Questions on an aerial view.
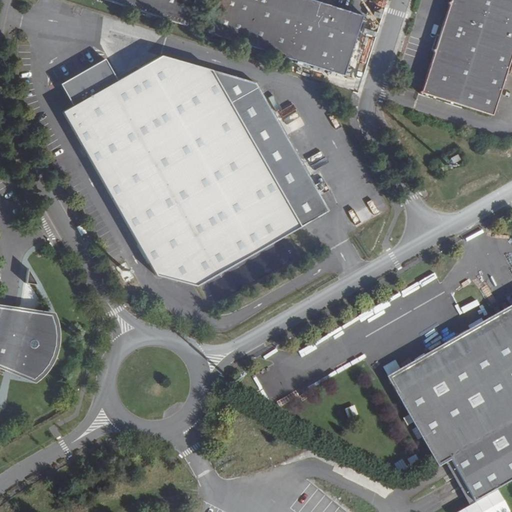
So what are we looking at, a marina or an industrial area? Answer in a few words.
industrial area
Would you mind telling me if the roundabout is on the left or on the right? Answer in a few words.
left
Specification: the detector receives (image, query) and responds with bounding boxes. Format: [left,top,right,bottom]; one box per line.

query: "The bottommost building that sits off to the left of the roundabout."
[0,306,62,383]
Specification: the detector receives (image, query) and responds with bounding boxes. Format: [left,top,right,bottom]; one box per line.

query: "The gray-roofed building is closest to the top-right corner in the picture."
[420,0,512,118]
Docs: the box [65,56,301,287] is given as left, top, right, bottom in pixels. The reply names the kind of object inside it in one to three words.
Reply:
warehouse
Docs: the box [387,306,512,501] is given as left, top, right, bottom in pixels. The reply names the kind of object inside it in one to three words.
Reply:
building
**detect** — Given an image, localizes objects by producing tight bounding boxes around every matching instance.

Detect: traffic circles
[100,328,208,436]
